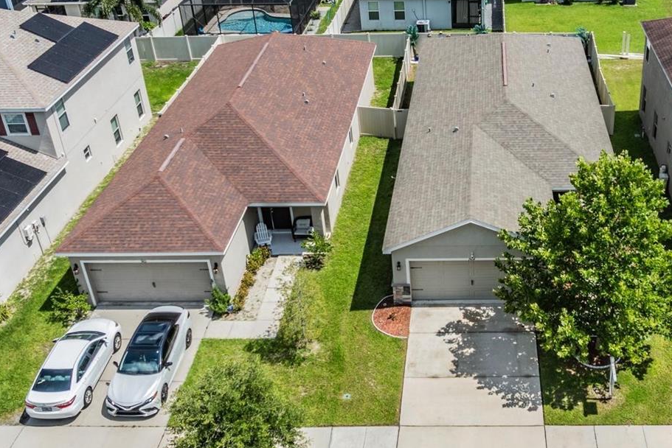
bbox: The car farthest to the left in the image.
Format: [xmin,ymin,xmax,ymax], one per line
[18,319,116,418]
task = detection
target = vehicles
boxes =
[99,311,184,418]
[18,319,116,418]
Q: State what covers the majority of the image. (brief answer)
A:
buildings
